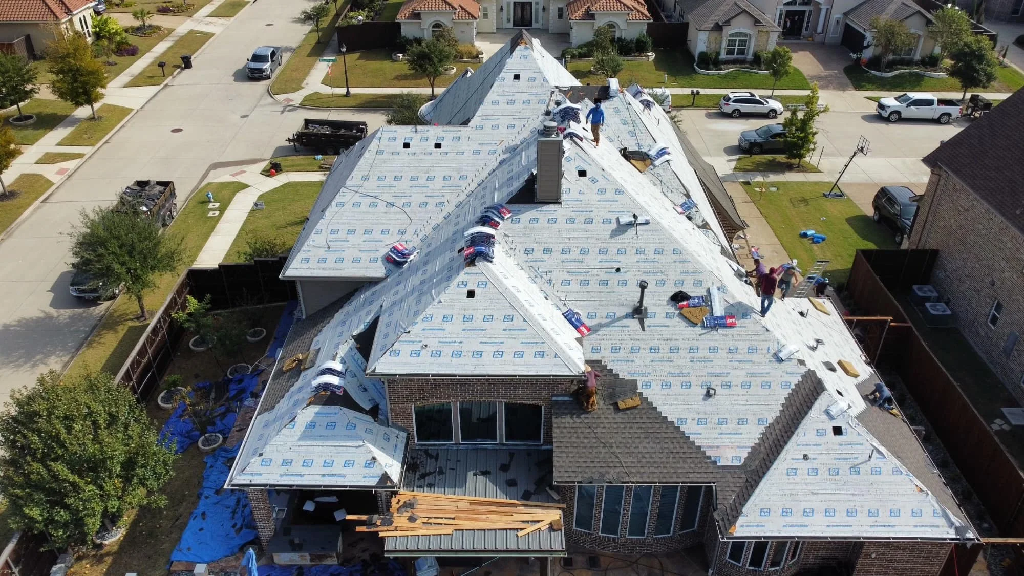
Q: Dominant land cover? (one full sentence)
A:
Most of the picture is covered by buildings.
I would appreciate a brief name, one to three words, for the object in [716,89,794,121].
car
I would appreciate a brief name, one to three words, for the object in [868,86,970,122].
truck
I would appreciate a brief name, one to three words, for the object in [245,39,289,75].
truck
